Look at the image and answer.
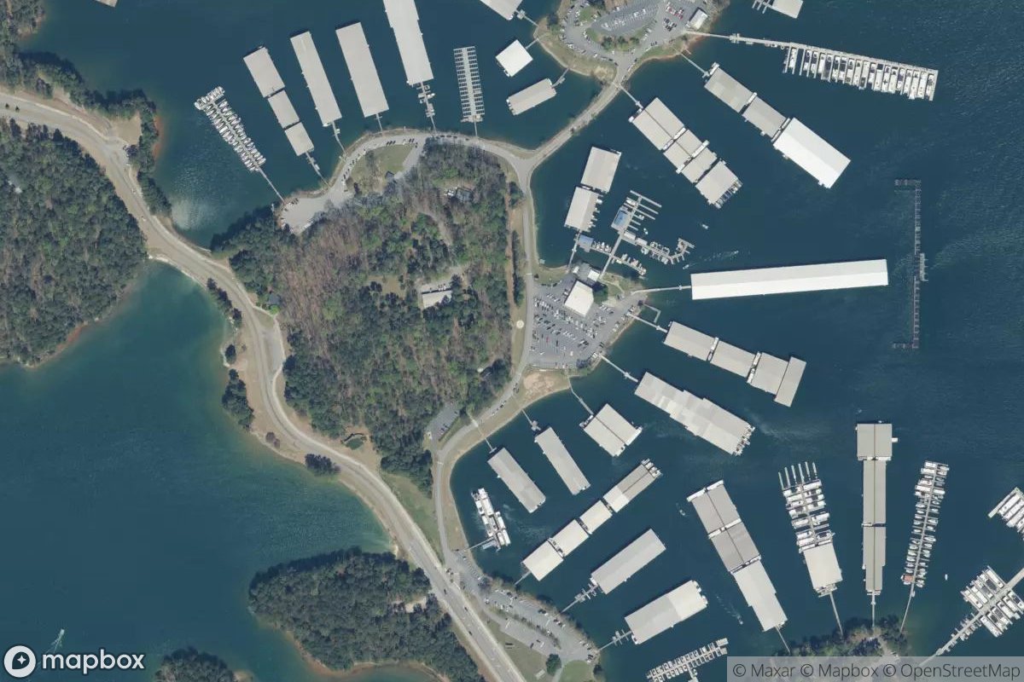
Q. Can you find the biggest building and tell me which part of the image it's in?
center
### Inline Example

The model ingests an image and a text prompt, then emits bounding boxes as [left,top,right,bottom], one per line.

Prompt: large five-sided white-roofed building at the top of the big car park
[565,281,594,316]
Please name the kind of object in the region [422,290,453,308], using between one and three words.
building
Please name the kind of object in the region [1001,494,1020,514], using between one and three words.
boat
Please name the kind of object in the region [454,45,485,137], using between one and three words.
pier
